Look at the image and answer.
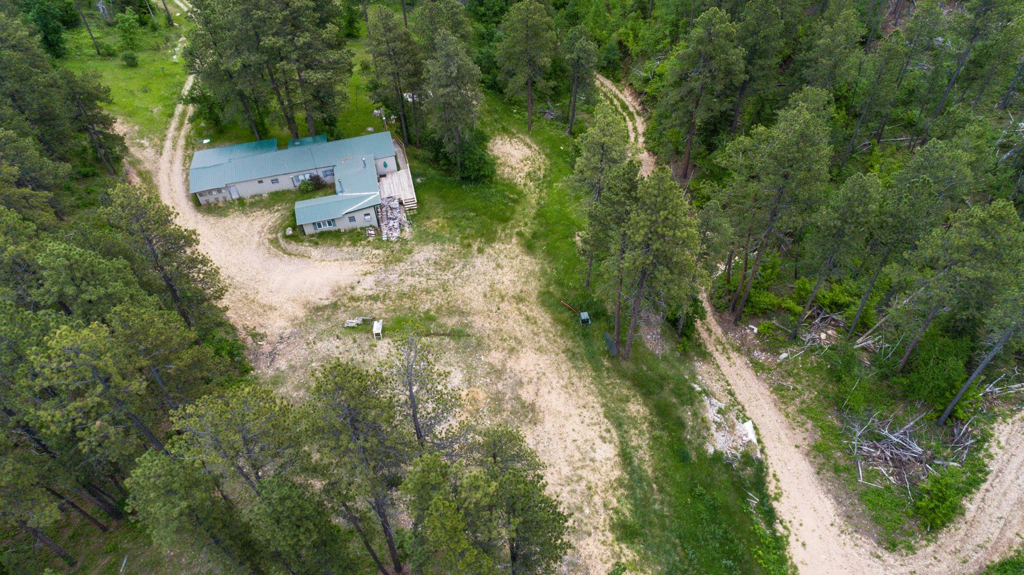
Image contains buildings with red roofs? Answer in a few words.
No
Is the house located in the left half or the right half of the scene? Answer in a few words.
left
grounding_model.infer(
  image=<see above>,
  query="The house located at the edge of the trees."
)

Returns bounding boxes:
[189,131,396,236]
